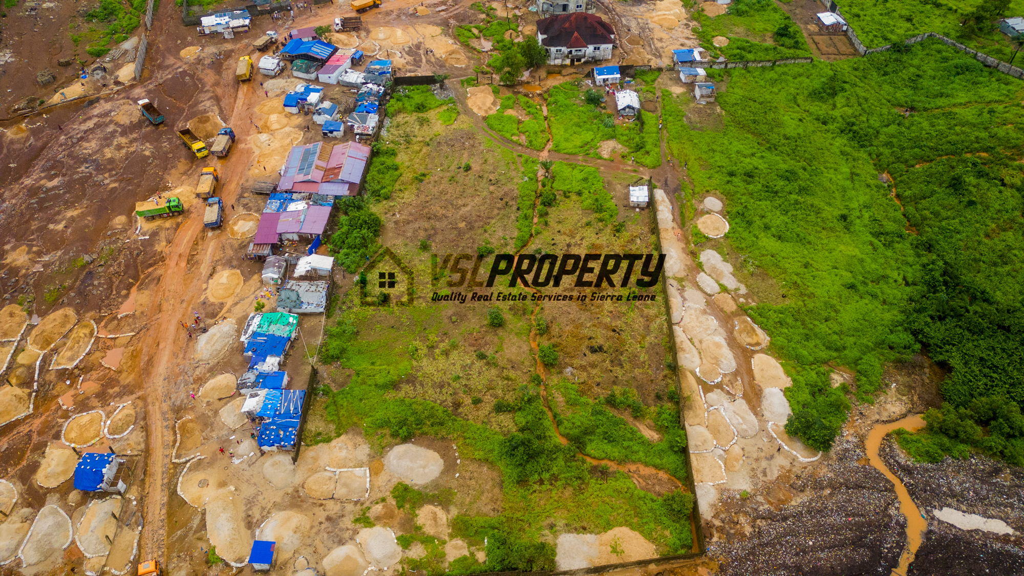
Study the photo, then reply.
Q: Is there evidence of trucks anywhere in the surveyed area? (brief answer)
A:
Yes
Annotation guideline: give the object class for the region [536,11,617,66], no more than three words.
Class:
house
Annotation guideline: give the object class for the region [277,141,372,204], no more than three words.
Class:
shed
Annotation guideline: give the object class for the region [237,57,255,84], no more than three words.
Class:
vehicle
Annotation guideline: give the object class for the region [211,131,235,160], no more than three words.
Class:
truck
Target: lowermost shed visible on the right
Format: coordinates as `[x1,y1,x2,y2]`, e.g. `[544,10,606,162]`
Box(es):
[629,186,648,209]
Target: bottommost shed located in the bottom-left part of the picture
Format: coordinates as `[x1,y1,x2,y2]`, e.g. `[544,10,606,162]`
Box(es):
[249,541,278,571]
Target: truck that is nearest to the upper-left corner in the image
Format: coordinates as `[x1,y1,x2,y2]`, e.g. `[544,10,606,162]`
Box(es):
[136,99,167,129]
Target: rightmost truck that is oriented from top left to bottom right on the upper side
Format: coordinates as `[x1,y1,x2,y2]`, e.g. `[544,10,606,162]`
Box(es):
[177,131,210,163]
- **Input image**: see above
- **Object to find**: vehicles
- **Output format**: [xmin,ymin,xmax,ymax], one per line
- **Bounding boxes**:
[237,57,255,84]
[211,131,235,160]
[335,17,362,31]
[352,0,385,15]
[196,168,219,201]
[136,99,167,129]
[252,31,280,52]
[177,131,210,163]
[137,558,169,576]
[135,198,186,220]
[204,198,226,232]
